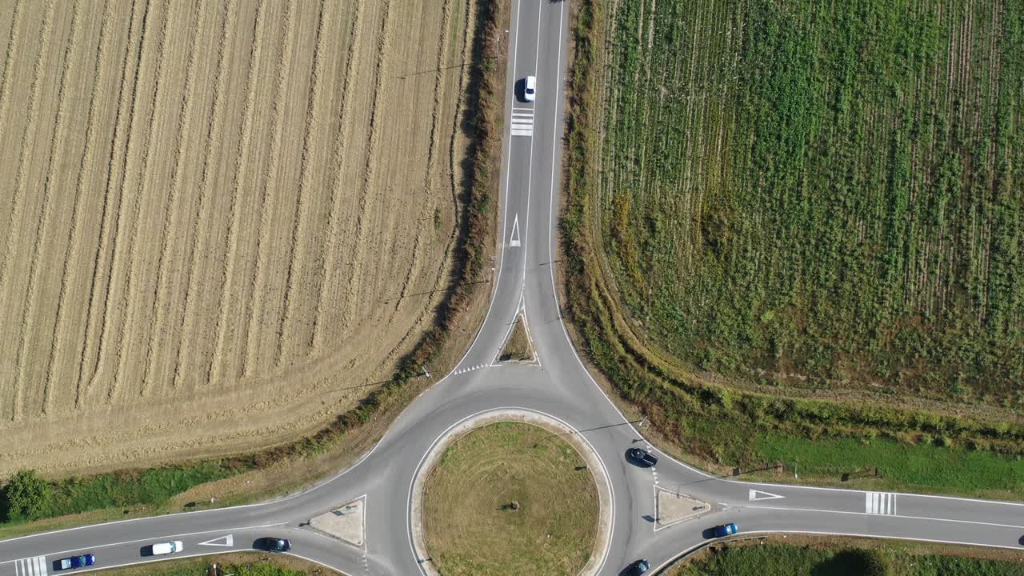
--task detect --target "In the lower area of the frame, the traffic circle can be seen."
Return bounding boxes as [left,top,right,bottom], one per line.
[406,407,617,576]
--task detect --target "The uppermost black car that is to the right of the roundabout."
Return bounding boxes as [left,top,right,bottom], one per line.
[629,445,658,466]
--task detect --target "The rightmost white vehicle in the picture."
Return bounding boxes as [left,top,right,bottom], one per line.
[523,76,536,101]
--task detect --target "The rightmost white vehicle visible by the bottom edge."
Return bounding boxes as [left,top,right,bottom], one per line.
[152,540,184,555]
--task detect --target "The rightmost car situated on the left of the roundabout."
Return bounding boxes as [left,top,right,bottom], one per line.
[265,537,292,551]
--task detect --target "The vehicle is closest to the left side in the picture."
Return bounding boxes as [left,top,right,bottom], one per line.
[61,554,96,569]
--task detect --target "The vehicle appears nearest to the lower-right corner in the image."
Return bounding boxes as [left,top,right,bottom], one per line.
[713,522,738,537]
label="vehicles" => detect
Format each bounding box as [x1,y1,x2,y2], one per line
[265,537,292,551]
[523,76,536,101]
[713,522,738,537]
[152,540,184,555]
[61,554,96,569]
[629,445,658,466]
[623,559,649,576]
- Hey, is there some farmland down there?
Yes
